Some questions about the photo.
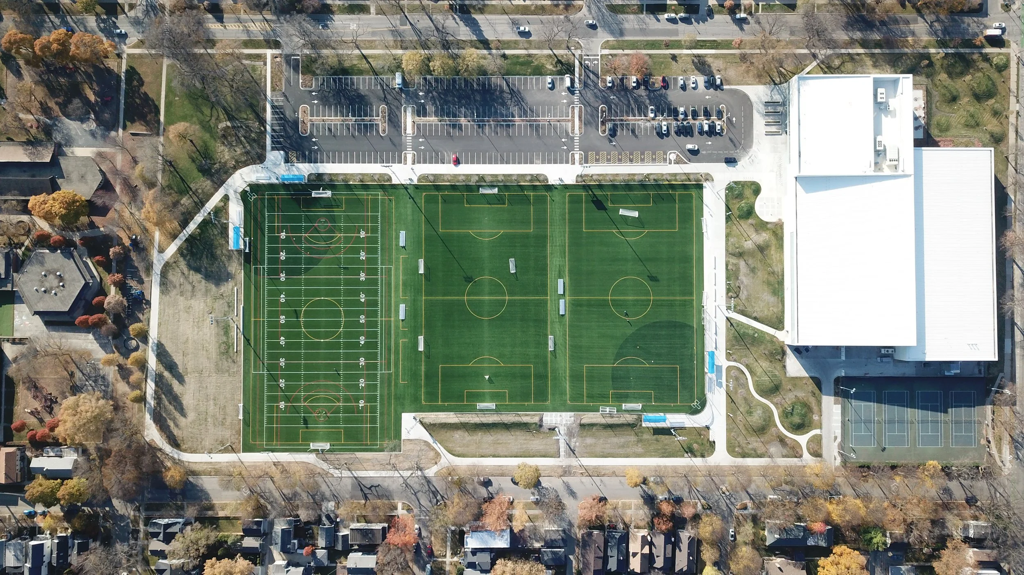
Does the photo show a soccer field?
Yes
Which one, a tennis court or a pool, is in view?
tennis court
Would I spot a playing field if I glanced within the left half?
Yes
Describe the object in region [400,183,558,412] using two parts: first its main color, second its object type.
green soccer field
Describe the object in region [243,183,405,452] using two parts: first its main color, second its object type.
green sports field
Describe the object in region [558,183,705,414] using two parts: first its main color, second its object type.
green soccer field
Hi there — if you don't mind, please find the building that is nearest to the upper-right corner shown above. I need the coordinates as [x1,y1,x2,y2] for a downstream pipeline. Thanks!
[784,74,999,374]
